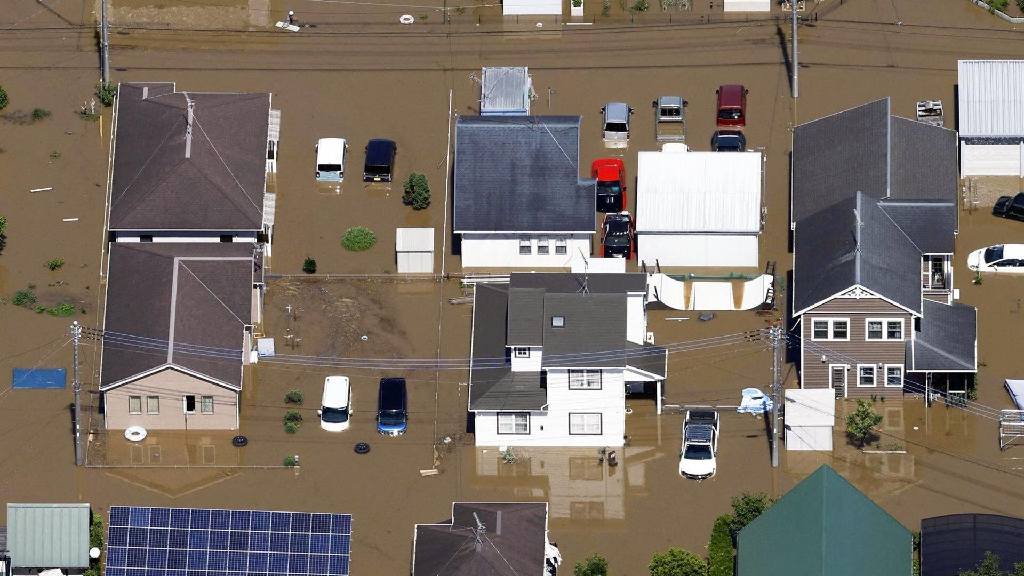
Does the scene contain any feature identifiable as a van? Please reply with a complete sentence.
Yes, the image includes a van.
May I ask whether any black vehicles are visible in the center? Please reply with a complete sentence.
Yes, there is a black vehicle in the center.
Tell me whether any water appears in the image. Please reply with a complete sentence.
Yes, there is water in the image.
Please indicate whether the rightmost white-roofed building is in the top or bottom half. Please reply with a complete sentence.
The top half of the photo is where the rightmost white-roofed building is.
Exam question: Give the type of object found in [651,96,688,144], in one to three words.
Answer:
truck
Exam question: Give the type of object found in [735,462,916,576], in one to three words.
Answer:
barn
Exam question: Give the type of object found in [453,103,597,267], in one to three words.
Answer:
house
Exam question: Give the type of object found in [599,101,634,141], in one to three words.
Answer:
car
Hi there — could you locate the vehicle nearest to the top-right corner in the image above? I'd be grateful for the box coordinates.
[917,103,943,127]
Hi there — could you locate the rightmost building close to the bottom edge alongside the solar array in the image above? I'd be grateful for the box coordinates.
[412,502,549,576]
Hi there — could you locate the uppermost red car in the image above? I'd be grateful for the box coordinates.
[715,85,750,126]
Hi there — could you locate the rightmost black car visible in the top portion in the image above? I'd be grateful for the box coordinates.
[988,185,1024,218]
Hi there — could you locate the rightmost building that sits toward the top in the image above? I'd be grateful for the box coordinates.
[957,58,1024,177]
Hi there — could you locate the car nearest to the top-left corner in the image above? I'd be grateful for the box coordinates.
[314,138,349,181]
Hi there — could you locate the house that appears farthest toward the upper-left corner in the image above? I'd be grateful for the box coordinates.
[108,78,279,259]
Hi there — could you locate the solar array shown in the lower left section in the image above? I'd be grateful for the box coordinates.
[100,506,356,576]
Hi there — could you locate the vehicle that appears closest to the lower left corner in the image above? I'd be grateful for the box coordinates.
[316,374,354,429]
